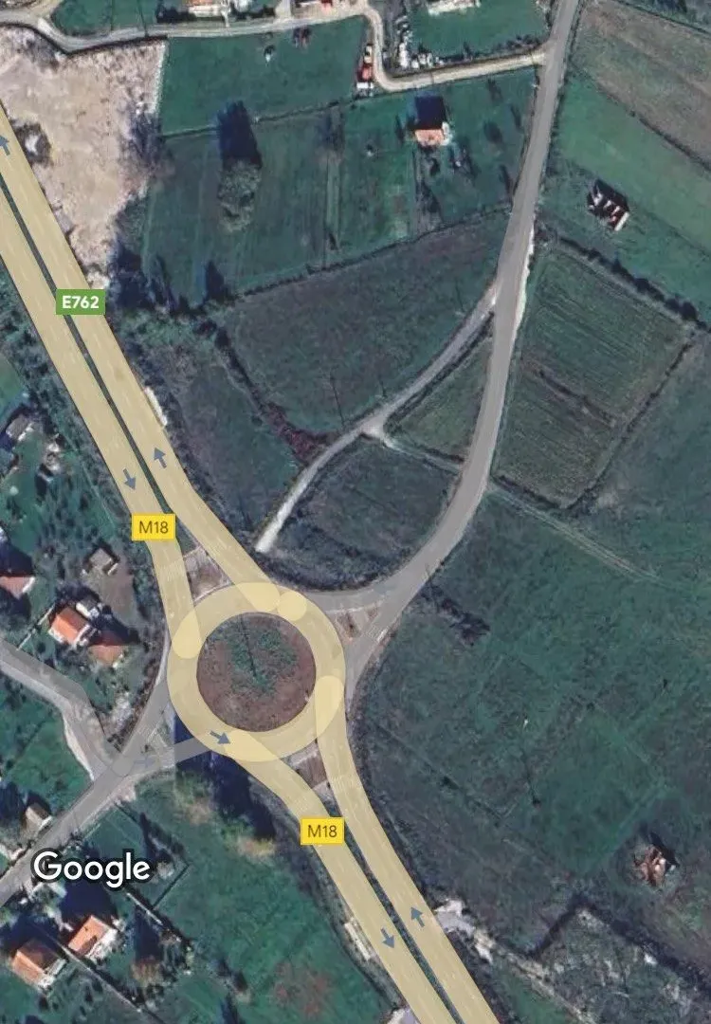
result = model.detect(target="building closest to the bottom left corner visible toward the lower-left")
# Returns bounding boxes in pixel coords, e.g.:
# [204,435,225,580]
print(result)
[11,941,64,990]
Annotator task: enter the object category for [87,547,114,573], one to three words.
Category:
shed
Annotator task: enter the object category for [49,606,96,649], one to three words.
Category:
house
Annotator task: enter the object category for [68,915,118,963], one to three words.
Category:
house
